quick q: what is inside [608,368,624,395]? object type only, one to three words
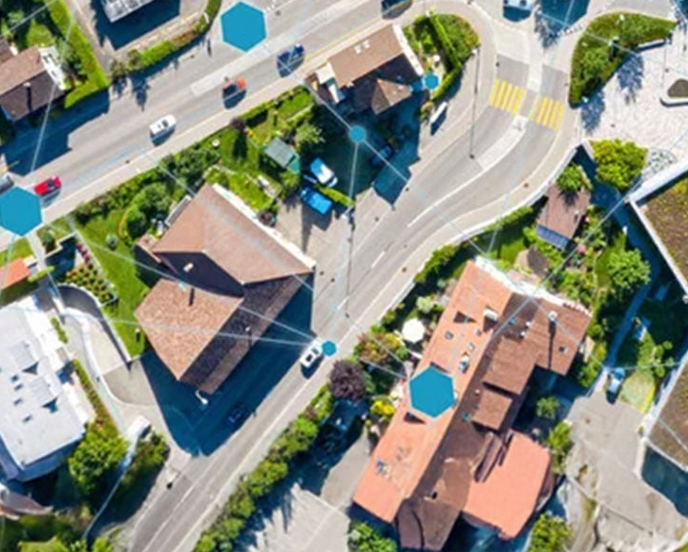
car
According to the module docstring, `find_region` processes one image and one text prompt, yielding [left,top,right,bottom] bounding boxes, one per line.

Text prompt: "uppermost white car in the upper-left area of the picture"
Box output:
[149,117,176,137]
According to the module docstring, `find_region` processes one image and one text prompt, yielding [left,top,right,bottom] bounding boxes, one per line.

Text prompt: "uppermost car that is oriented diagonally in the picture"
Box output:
[277,46,303,67]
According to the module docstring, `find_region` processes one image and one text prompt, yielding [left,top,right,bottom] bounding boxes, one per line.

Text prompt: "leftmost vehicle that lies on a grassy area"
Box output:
[312,158,336,186]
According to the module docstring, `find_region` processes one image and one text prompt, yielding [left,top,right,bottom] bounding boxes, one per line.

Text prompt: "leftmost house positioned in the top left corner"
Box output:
[0,39,74,120]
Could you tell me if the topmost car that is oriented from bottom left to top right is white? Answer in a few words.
No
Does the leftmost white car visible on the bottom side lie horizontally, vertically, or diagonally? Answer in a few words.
diagonally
